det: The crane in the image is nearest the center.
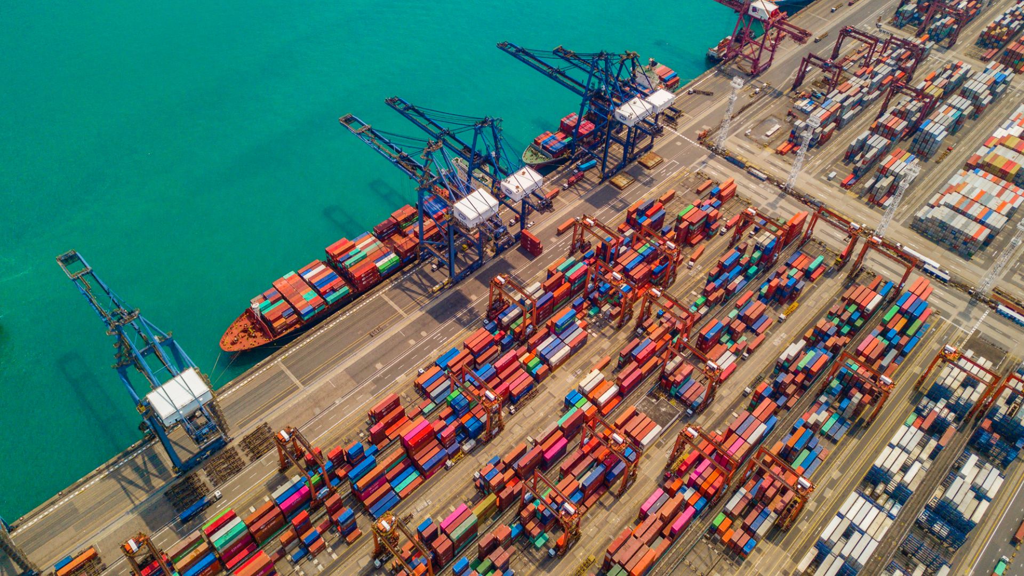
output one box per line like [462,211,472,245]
[487,273,540,343]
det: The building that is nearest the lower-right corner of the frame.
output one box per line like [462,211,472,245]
[634,395,681,434]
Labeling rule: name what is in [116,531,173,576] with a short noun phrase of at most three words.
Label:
crane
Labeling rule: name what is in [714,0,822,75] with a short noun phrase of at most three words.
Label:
container crane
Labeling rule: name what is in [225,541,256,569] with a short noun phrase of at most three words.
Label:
shipping container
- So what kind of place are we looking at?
port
